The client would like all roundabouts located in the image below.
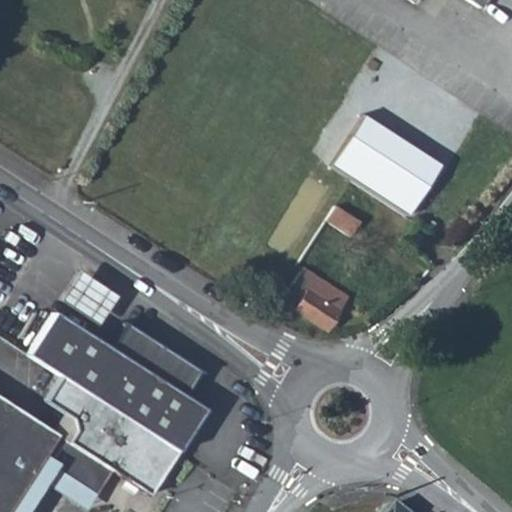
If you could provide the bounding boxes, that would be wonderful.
[292,369,412,489]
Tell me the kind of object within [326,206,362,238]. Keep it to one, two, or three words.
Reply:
shed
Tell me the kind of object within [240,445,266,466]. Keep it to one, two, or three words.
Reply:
truck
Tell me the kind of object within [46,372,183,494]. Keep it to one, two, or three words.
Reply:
building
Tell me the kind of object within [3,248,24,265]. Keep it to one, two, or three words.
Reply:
car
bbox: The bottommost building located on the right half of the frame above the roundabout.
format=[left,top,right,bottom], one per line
[298,267,350,334]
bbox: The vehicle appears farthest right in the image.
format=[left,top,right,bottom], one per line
[485,4,510,24]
